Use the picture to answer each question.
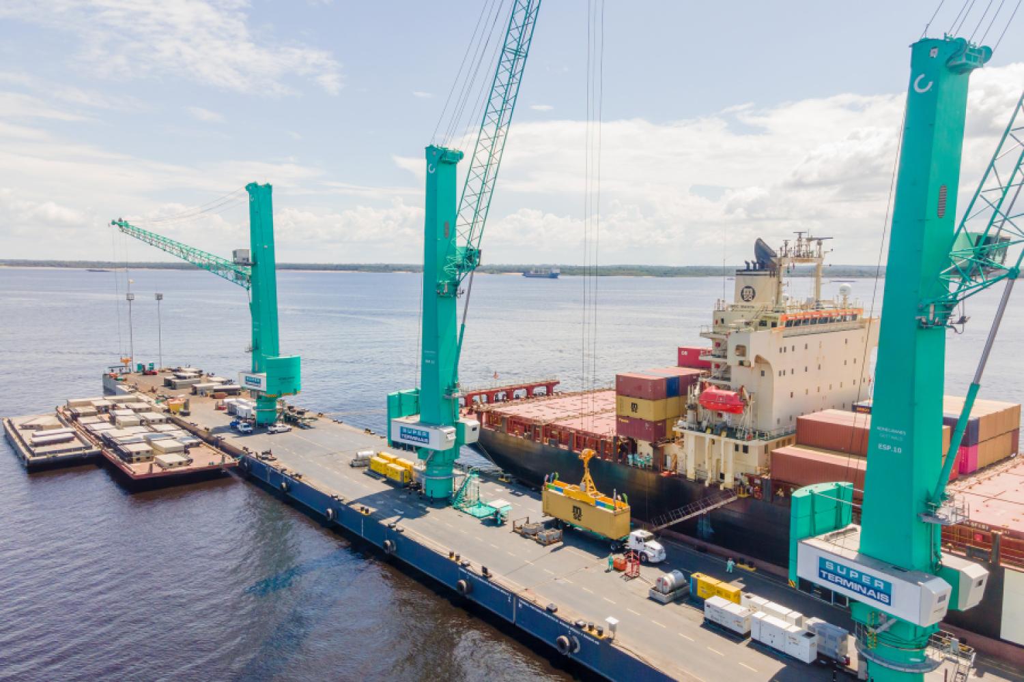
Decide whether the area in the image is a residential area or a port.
port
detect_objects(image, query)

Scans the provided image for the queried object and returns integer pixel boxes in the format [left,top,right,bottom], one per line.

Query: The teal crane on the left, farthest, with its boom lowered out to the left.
[107,183,310,423]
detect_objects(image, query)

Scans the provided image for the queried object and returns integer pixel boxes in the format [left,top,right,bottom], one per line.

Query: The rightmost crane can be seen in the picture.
[779,0,1024,682]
